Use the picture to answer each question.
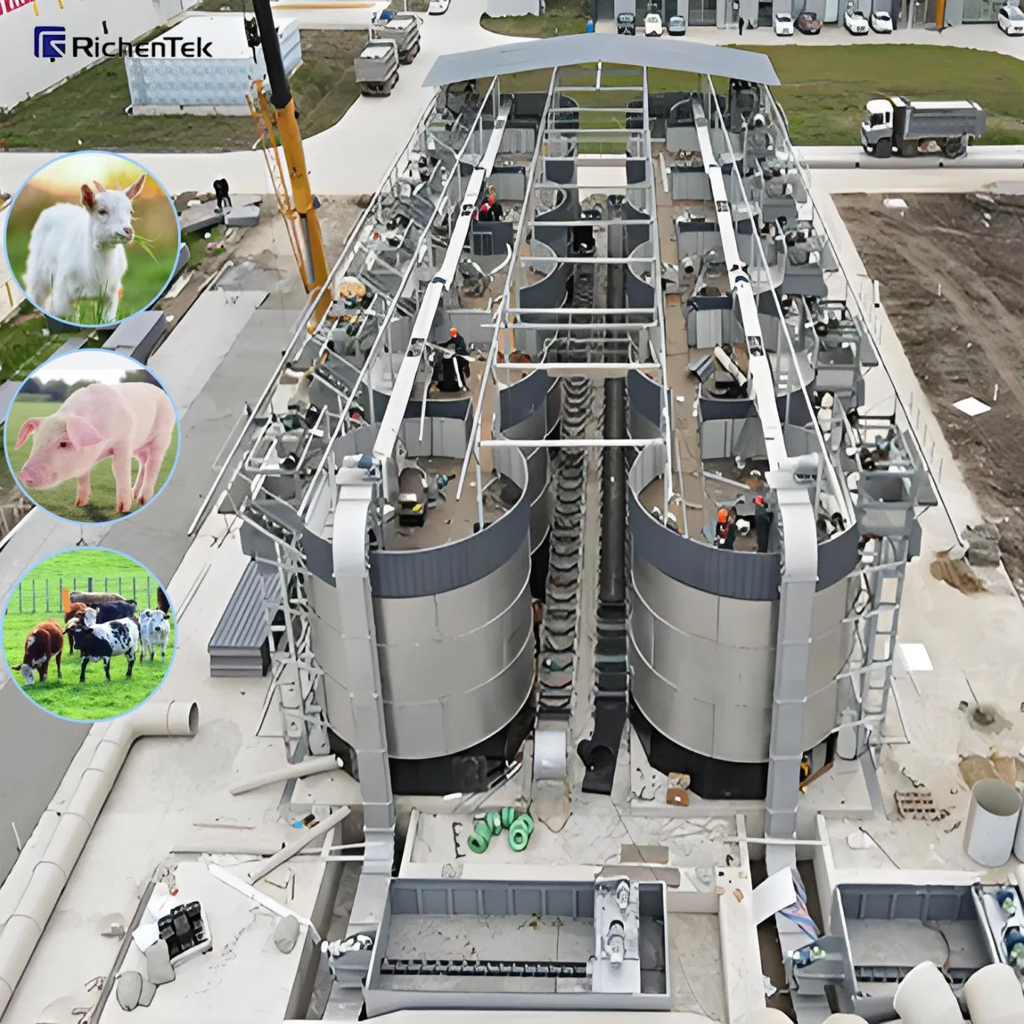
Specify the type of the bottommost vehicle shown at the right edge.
truck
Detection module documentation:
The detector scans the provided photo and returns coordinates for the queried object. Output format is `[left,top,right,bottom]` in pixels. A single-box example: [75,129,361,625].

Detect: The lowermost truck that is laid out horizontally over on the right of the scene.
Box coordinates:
[855,97,996,156]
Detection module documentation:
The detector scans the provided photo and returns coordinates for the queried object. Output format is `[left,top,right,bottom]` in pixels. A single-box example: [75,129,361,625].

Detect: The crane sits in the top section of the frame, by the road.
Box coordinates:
[249,0,377,340]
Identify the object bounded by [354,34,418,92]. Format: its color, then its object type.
gray truck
